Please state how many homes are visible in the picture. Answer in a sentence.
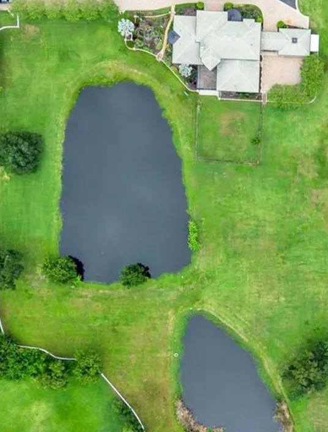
Just 1 home appears in this view.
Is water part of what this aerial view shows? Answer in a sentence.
Yes, there is water in the image.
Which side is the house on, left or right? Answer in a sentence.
It is on the right.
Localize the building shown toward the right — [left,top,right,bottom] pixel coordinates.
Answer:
[168,8,319,94]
